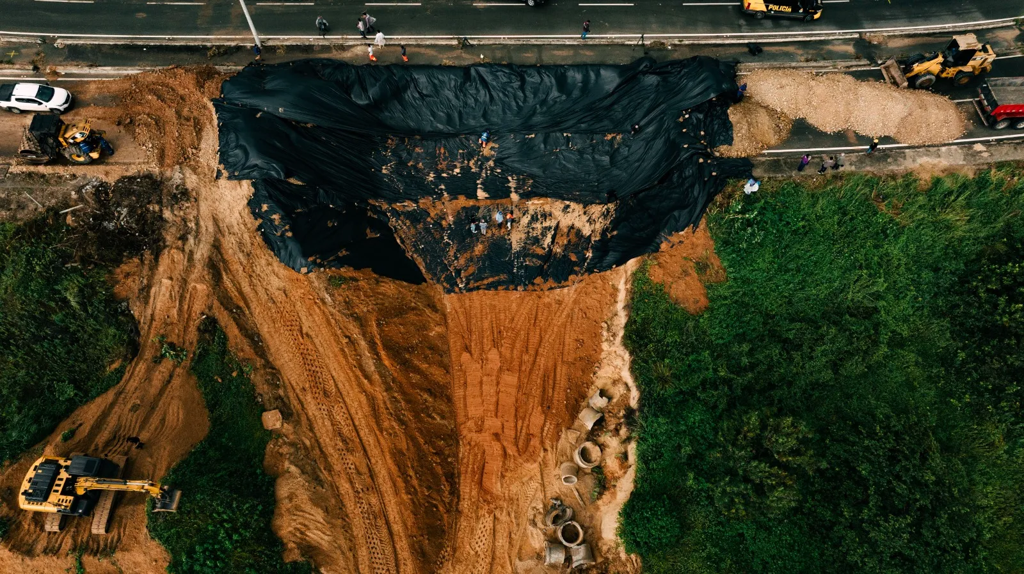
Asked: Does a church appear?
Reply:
No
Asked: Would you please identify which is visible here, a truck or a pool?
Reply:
truck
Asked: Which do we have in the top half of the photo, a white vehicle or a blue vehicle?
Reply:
white vehicle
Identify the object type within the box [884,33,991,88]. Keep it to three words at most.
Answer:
work vehicle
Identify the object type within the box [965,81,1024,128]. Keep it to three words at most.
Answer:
truck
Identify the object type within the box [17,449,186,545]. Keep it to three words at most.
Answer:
work vehicle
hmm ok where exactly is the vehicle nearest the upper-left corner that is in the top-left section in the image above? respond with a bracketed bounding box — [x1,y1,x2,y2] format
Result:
[0,79,75,115]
